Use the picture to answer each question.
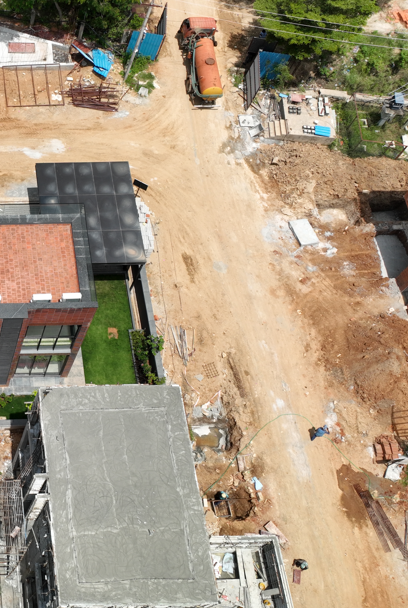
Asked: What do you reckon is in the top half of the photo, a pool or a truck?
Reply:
truck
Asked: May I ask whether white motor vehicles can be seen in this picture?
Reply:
No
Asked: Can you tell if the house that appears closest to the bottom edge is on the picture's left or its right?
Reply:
left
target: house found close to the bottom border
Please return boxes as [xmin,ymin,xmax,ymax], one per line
[25,385,218,608]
